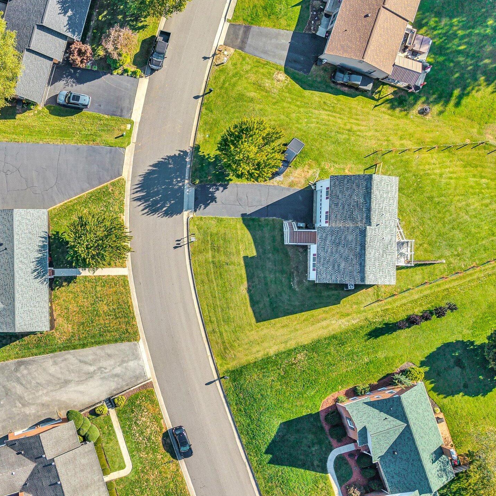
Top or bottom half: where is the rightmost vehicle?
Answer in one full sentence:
The top half of the photo is where the rightmost vehicle is.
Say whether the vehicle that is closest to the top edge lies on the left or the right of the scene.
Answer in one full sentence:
You can find the vehicle that is closest to the top edge on the left side of the picture.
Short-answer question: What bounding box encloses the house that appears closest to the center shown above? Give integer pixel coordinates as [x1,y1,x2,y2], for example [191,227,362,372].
[301,174,399,284]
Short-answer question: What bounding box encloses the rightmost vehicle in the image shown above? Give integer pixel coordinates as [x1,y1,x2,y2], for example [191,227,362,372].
[330,67,374,90]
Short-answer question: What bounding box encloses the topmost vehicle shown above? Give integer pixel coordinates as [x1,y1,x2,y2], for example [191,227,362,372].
[150,27,175,71]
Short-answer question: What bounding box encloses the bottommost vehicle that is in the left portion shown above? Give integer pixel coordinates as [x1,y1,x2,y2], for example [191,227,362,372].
[172,425,192,459]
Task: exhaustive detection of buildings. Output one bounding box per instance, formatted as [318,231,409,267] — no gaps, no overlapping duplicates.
[0,0,92,106]
[0,415,109,496]
[317,0,420,78]
[333,380,458,496]
[0,209,50,332]
[301,174,399,284]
